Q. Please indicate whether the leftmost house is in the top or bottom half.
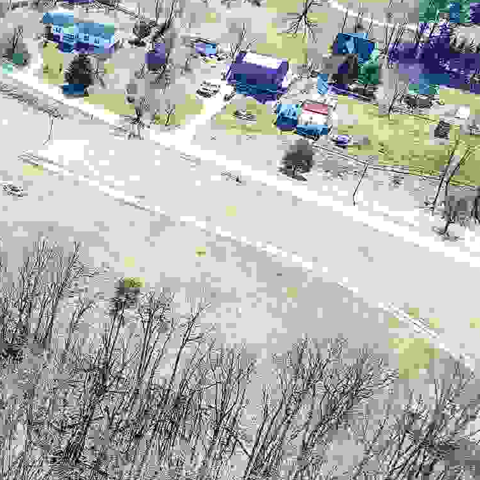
top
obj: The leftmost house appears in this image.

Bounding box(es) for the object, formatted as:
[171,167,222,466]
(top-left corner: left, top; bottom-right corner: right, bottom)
[51,8,125,56]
